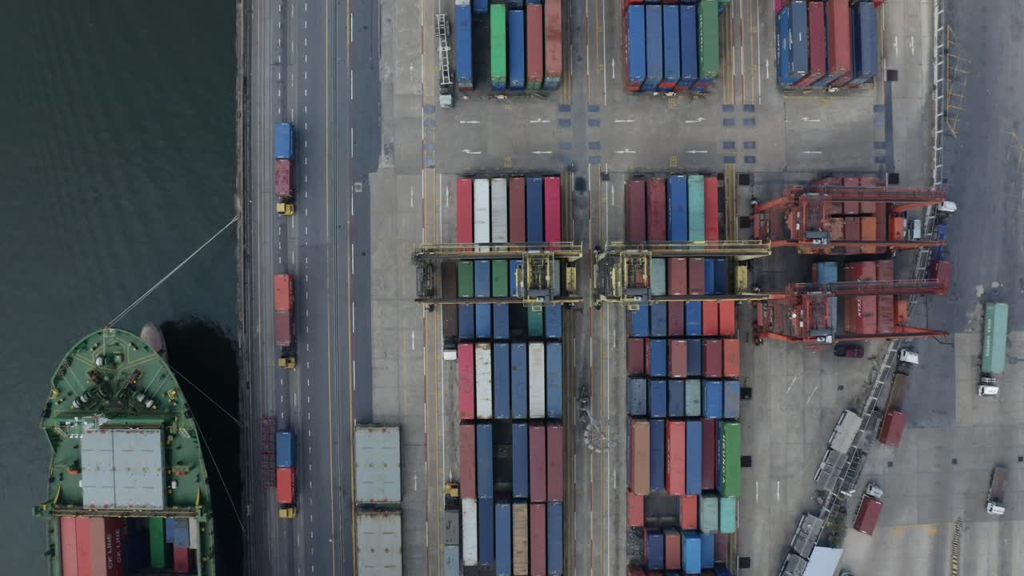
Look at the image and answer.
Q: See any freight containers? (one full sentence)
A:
Yes, looking at the shot, I can spot a freight container.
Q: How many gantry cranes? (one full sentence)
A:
In total, 4 gantry cranes can be seen.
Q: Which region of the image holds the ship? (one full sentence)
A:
The ship is in the bottom left part of the image.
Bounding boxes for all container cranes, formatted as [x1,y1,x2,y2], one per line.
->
[411,243,583,314]
[751,185,952,263]
[753,273,954,347]
[593,242,777,315]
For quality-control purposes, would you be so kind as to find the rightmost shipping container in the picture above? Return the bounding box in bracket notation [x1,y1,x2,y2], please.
[982,302,1008,373]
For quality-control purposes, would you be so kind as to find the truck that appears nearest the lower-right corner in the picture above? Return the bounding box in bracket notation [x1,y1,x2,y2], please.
[981,460,1007,516]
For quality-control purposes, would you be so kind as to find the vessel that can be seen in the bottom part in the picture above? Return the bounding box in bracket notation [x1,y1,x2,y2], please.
[33,323,226,576]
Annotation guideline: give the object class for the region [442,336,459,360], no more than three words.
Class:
vehicle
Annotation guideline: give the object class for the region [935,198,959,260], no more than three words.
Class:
truck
